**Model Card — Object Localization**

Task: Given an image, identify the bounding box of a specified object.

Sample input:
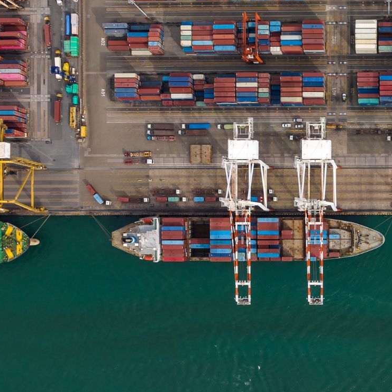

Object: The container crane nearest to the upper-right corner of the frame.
[241,12,265,67]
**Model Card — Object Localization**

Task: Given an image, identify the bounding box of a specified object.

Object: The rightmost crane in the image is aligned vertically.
[293,115,344,304]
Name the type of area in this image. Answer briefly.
port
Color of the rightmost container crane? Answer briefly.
white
